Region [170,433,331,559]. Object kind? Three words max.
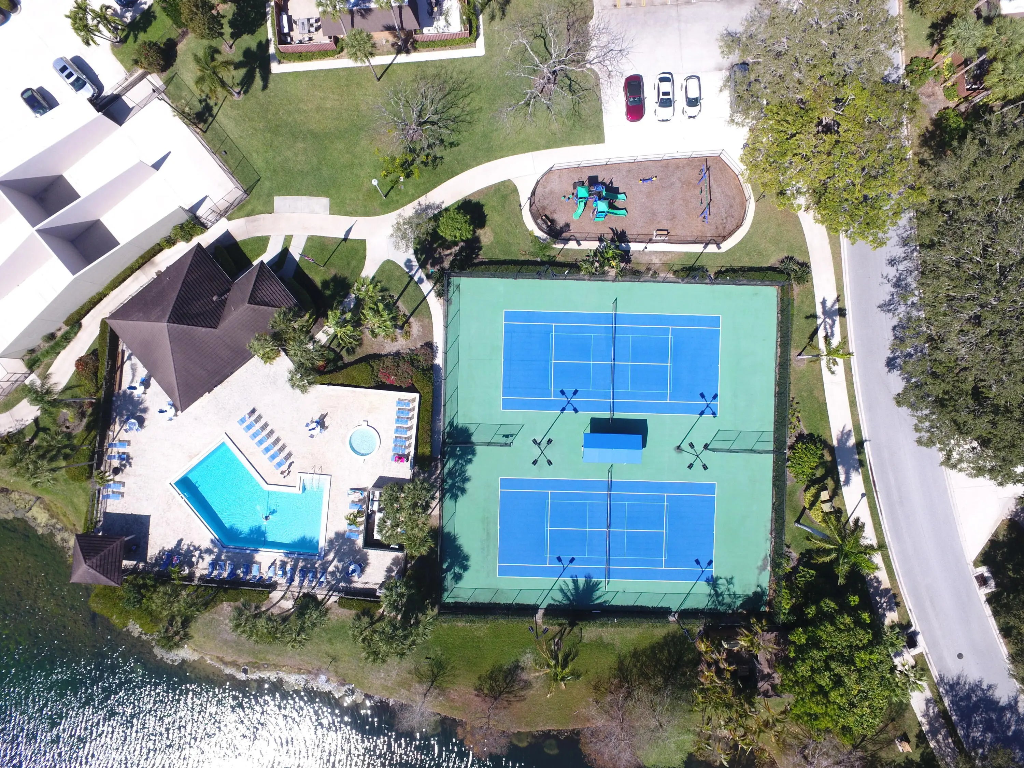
swimming pool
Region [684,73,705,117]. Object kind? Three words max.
car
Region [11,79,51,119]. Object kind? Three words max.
car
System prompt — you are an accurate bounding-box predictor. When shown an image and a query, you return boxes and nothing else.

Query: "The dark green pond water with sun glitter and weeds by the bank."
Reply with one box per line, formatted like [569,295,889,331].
[0,505,775,768]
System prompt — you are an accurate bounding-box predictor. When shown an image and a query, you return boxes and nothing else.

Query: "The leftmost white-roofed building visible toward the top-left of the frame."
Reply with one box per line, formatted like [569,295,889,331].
[0,99,110,172]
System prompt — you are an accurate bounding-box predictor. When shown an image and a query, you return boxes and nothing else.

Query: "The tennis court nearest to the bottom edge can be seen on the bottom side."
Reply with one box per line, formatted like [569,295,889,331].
[440,441,773,614]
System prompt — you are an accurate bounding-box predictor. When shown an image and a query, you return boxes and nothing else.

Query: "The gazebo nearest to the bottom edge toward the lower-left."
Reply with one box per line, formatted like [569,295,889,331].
[71,532,134,586]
